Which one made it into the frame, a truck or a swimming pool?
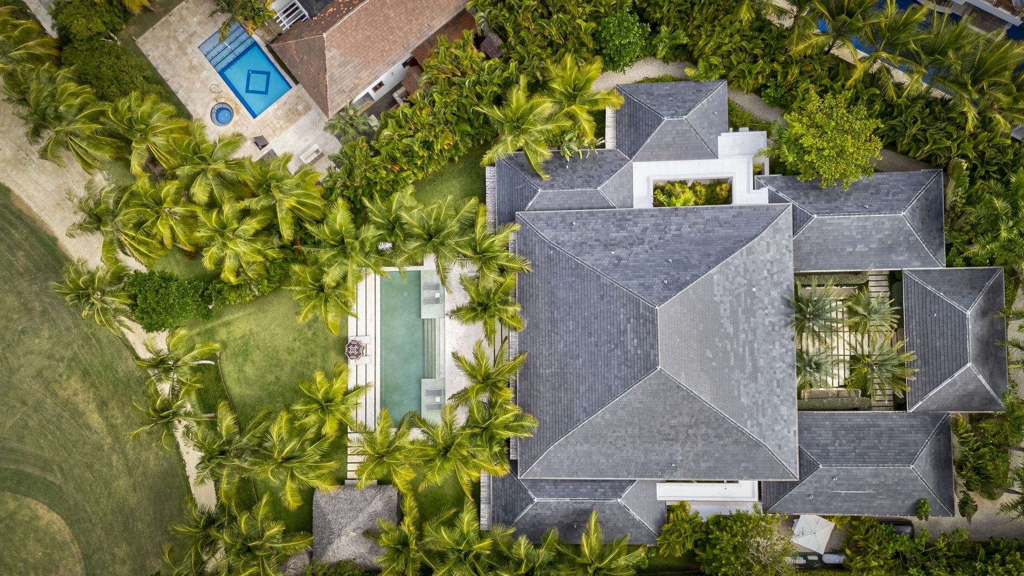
swimming pool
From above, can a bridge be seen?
No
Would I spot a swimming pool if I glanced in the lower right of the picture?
No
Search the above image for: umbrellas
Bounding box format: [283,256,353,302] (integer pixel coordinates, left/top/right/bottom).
[791,515,835,554]
[345,341,363,359]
